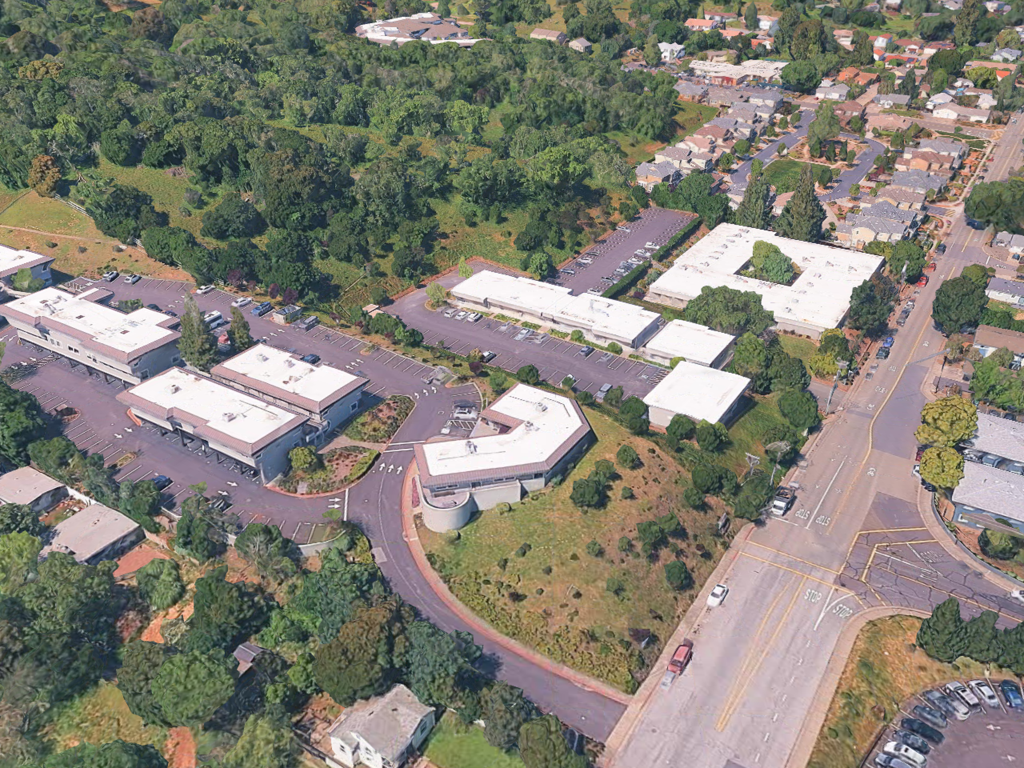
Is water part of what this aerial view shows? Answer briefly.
No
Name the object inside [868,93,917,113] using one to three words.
house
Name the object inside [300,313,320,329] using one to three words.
vehicle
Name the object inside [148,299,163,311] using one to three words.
vehicle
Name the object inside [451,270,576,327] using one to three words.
building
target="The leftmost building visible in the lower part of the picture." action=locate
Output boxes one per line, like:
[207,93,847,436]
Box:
[0,466,66,510]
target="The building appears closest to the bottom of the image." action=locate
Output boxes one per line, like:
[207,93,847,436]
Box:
[309,675,432,768]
